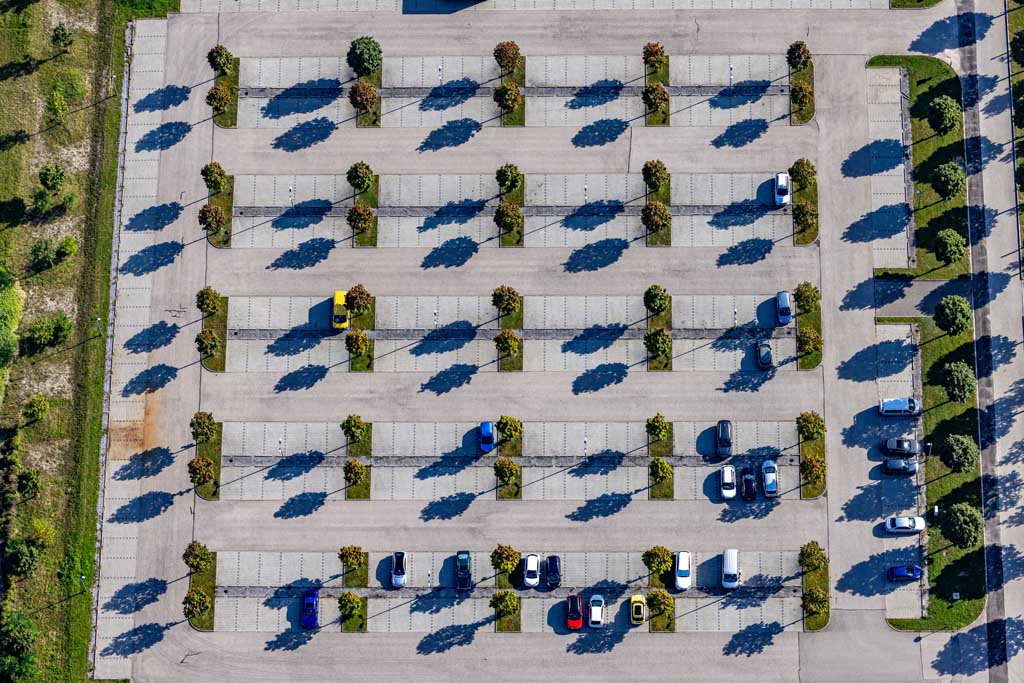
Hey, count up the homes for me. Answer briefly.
none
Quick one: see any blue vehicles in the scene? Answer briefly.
Yes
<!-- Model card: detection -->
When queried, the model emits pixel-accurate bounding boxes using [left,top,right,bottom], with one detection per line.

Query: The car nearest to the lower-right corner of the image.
[888,566,921,583]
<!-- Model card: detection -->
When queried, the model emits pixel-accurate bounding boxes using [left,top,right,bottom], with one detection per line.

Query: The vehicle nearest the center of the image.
[479,423,495,454]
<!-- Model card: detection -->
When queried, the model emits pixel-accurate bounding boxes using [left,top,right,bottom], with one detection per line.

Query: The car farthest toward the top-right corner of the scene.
[774,174,791,206]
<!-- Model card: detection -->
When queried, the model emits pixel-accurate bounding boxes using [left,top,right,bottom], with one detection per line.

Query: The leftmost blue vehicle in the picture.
[301,590,319,630]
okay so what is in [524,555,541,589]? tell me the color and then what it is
white car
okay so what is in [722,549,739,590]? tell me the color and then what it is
white vehicle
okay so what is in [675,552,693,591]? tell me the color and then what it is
white car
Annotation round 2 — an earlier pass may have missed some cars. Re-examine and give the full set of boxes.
[545,556,562,591]
[720,466,737,500]
[716,421,734,458]
[888,566,921,583]
[588,596,606,630]
[756,342,773,373]
[524,555,541,589]
[776,293,793,325]
[630,596,645,627]
[390,552,408,589]
[675,552,693,591]
[774,174,791,206]
[455,552,472,592]
[762,462,780,499]
[740,470,757,503]
[882,438,918,455]
[883,459,919,476]
[479,423,495,454]
[885,516,925,534]
[301,590,319,630]
[566,596,583,631]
